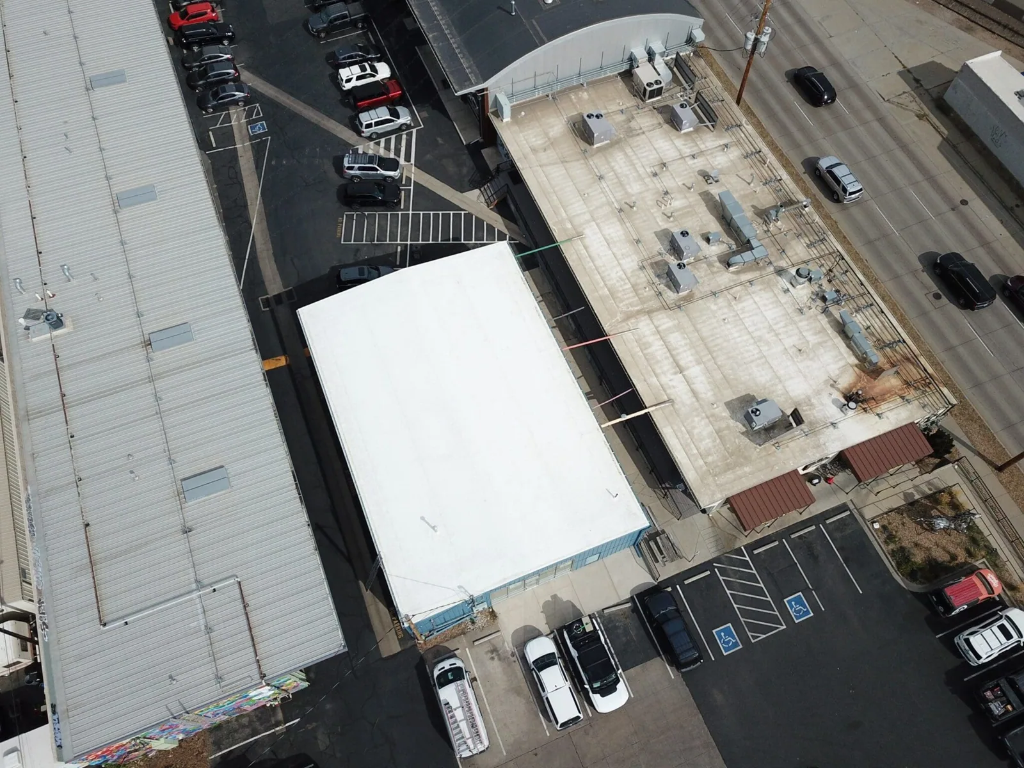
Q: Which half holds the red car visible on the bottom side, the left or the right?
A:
right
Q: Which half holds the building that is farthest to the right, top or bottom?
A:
top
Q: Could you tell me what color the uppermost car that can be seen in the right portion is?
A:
black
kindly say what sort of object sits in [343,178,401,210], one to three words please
car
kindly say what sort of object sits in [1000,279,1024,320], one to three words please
car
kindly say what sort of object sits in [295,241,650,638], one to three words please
building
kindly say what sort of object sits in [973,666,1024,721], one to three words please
truck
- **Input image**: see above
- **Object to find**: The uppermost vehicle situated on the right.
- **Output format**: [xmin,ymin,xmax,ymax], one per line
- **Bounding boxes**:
[791,68,841,108]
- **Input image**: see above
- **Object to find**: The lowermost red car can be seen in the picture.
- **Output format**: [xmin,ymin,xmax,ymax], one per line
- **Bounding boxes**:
[926,569,1005,621]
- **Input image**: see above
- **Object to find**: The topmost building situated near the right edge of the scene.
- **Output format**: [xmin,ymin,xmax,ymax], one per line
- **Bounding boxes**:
[944,46,1024,186]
